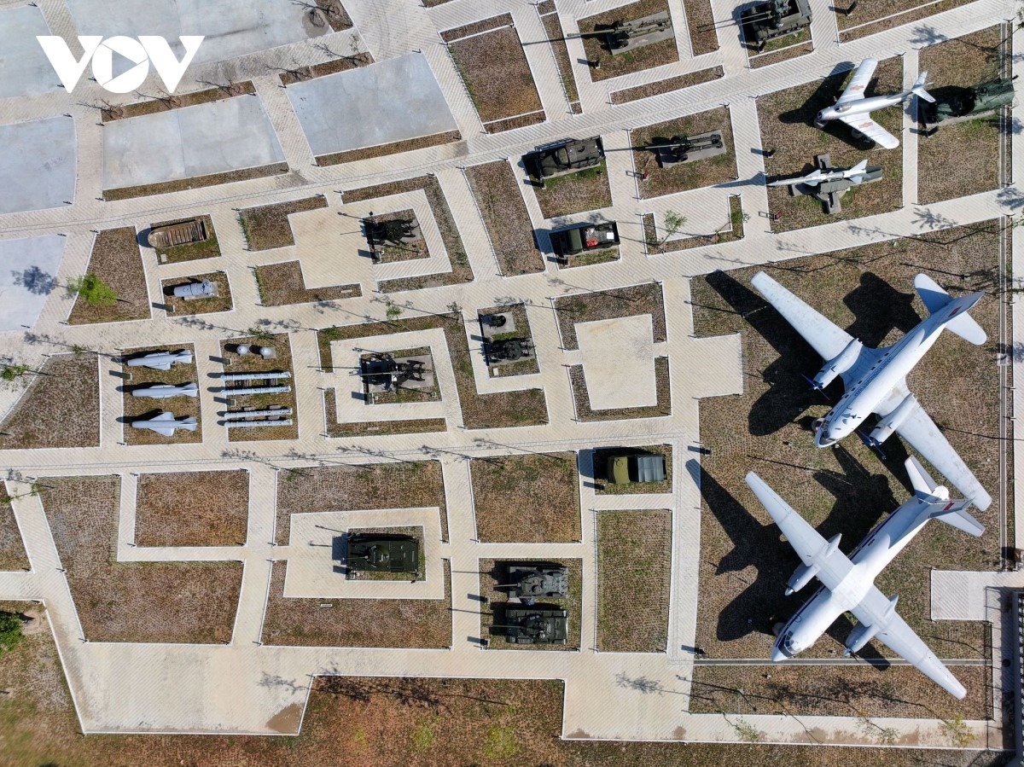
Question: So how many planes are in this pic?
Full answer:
I count 3 planes.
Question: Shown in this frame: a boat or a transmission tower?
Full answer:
Looking from above, you can make out a boat.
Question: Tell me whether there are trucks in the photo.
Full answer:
Yes, this view includes a truck.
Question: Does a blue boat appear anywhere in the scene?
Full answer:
No, the picture doesn't show any blue boat.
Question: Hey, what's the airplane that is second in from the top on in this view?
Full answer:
From above, the airplane that is second in from the top can be seen on the grass.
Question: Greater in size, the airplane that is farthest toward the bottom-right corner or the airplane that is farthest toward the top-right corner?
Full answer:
Compared with the airplane that is farthest toward the top-right corner, the airplane that is farthest toward the bottom-right corner is the bigger one.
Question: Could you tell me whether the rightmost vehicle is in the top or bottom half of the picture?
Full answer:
The rightmost vehicle is in the top half of the image.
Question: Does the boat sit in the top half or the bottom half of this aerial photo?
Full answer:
The boat sits in the top half of the picture.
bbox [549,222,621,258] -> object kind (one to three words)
truck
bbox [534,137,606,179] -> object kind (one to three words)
vehicle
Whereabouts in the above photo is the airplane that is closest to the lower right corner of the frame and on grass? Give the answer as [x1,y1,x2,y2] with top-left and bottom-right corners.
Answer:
[745,457,987,695]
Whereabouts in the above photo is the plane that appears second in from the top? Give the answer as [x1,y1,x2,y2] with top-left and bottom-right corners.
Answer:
[755,271,993,507]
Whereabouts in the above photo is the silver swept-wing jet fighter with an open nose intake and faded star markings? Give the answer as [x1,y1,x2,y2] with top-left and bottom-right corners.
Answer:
[817,55,938,152]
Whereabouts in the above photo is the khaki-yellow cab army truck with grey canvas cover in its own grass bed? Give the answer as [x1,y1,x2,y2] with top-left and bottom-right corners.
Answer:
[595,456,664,481]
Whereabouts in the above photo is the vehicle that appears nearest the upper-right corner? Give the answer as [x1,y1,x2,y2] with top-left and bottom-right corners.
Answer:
[918,70,1023,124]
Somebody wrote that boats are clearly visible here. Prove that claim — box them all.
[148,217,213,245]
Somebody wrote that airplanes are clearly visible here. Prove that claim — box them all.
[817,55,938,152]
[755,271,993,507]
[745,457,987,695]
